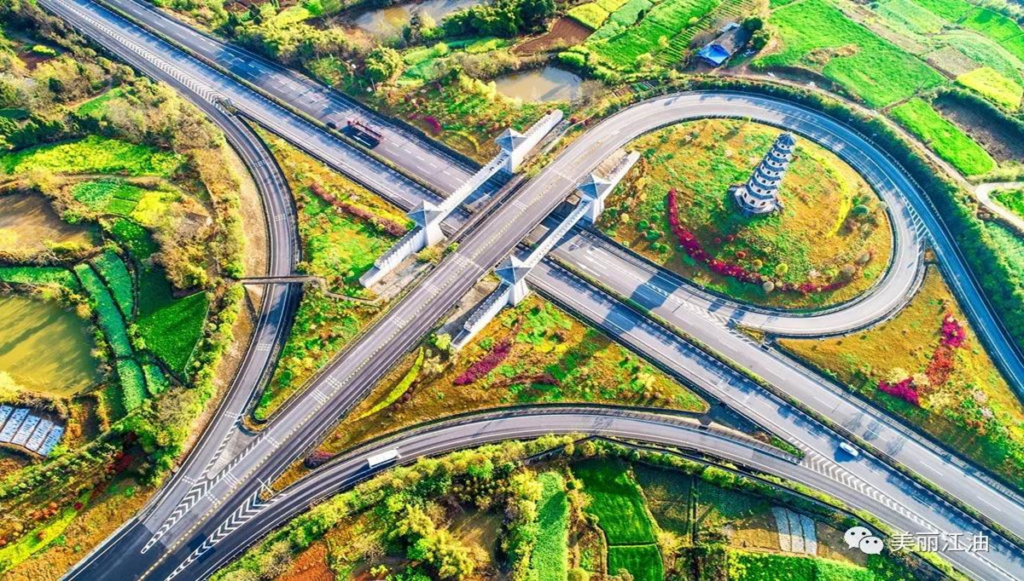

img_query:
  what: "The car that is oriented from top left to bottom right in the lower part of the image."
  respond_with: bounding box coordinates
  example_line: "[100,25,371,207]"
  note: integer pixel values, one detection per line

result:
[839,442,858,457]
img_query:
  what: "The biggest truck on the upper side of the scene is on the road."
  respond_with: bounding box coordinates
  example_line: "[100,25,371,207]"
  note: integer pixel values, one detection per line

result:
[347,119,384,142]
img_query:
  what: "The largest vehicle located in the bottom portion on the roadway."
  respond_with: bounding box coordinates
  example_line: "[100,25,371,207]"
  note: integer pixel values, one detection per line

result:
[366,449,401,469]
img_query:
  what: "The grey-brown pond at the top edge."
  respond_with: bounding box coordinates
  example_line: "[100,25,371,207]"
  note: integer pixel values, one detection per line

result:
[359,0,475,30]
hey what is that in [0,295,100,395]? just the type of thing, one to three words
pond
